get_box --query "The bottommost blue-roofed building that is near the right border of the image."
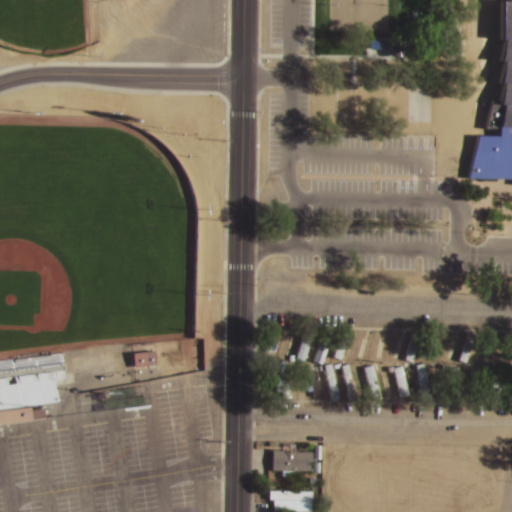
[470,126,512,180]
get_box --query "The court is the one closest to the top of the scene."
[331,0,388,33]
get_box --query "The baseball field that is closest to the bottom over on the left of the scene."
[0,116,197,360]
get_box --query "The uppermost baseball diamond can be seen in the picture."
[0,0,88,56]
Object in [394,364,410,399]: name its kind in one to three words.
house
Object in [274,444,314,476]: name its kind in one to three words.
house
